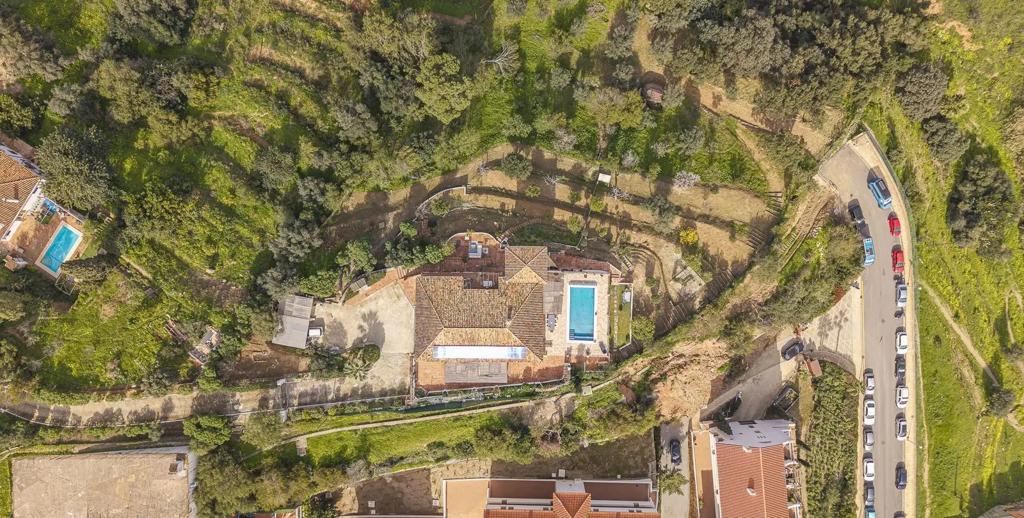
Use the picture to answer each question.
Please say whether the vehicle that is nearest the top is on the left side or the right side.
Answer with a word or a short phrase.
right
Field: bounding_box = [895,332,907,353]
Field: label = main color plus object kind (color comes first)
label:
white vehicle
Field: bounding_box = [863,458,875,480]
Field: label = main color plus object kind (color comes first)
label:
white vehicle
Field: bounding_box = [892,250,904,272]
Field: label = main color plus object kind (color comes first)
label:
red vehicle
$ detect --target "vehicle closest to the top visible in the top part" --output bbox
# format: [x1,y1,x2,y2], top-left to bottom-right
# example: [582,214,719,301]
[869,180,889,207]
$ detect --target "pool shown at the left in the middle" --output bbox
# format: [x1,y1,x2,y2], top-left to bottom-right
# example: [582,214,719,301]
[37,222,84,275]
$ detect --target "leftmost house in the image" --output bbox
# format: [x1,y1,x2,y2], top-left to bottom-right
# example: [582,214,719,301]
[0,148,44,250]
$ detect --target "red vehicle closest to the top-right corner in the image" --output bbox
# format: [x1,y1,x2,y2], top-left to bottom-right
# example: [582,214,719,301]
[888,216,900,236]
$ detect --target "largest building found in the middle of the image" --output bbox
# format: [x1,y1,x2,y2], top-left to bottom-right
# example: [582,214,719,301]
[414,245,548,363]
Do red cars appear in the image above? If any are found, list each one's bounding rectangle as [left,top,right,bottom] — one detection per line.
[892,250,904,272]
[888,216,900,236]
